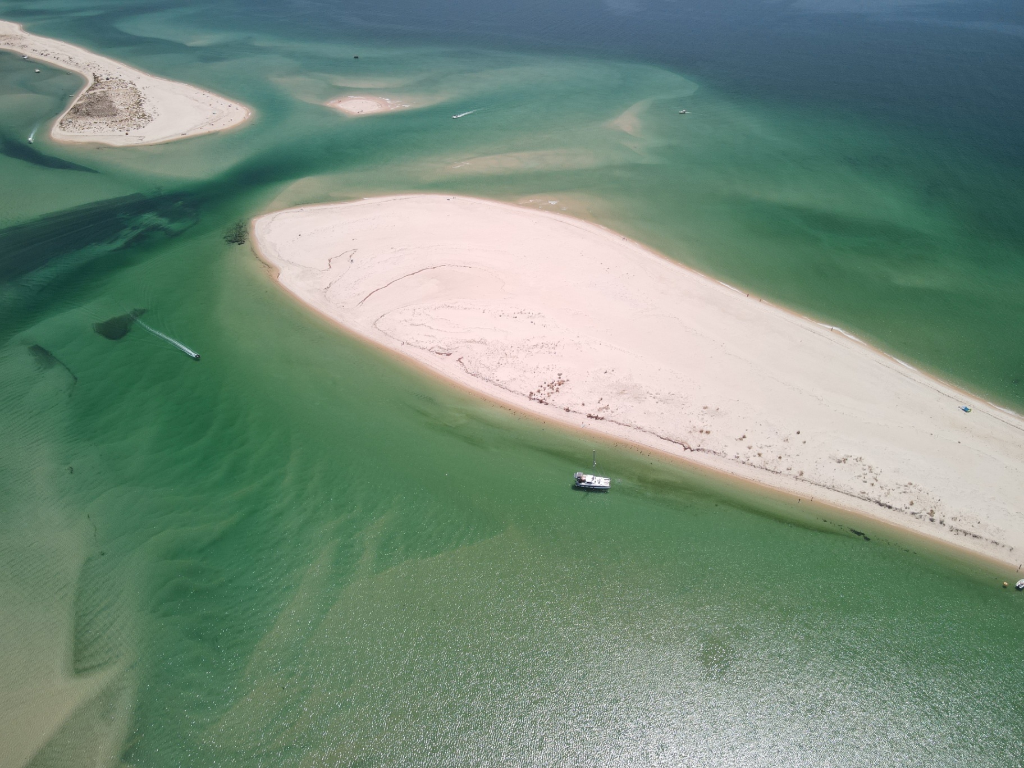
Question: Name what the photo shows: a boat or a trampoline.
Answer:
boat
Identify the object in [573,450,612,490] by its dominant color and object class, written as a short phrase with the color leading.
white boat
